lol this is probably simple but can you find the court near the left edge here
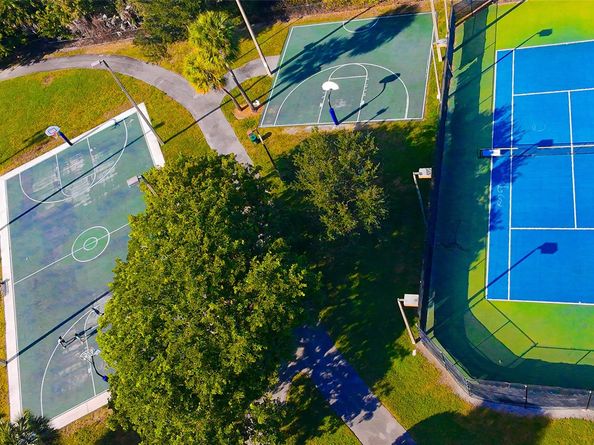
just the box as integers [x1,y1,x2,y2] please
[0,103,207,445]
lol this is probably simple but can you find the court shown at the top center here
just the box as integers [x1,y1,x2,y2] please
[261,9,432,127]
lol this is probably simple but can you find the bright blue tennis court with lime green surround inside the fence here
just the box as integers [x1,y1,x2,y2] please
[421,0,594,421]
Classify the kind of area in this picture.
sports ground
